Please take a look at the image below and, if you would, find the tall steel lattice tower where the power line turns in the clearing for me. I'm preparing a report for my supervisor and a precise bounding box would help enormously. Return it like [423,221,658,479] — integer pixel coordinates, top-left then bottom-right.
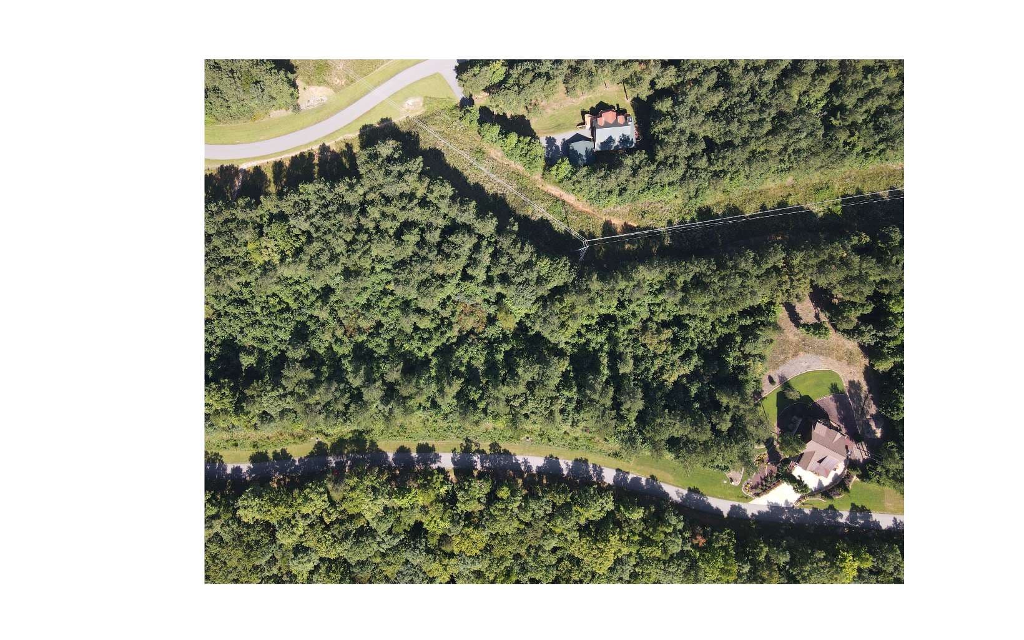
[572,240,590,268]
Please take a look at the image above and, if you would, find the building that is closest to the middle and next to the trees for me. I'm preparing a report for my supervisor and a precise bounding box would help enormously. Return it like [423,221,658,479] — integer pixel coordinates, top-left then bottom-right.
[570,138,594,168]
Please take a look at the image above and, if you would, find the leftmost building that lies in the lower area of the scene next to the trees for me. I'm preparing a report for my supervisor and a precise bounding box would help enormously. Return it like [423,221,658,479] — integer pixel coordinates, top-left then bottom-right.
[773,412,853,481]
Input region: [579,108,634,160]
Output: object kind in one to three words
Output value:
house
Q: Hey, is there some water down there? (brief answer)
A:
No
